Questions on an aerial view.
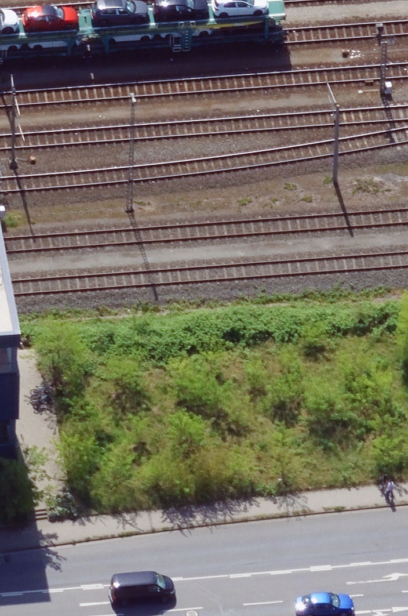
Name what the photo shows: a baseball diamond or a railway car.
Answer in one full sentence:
Of the two, only a railway car appears.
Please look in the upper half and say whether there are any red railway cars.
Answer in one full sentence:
No, no red railway car is visible in the upper half.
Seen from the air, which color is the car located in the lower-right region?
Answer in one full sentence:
The car located in the lower-right region is blue.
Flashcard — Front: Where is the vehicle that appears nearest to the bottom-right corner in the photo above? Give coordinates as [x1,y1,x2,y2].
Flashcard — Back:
[294,590,356,616]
